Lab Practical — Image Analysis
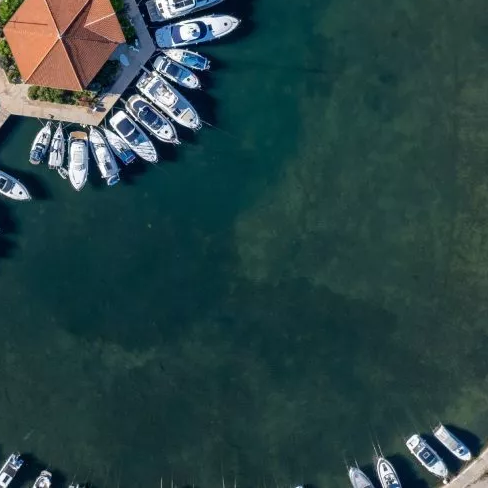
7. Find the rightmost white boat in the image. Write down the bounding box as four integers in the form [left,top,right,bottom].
[433,420,470,462]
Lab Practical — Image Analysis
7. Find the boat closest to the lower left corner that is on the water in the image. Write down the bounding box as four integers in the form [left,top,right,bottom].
[0,454,21,488]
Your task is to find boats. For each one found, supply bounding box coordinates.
[122,94,199,158]
[148,49,217,97]
[152,11,244,48]
[371,444,405,488]
[0,454,21,488]
[29,119,52,164]
[89,124,120,178]
[32,470,51,488]
[47,122,66,167]
[402,432,448,478]
[56,164,67,178]
[67,121,90,200]
[433,420,470,462]
[130,66,210,135]
[144,0,223,20]
[156,47,210,72]
[103,125,135,164]
[0,169,32,201]
[347,461,373,488]
[111,98,166,177]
